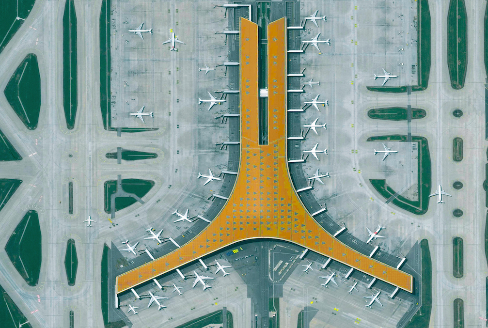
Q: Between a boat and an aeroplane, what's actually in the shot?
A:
aeroplane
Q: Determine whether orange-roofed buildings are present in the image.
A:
Yes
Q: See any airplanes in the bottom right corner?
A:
Yes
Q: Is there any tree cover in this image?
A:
No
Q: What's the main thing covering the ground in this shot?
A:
paved ground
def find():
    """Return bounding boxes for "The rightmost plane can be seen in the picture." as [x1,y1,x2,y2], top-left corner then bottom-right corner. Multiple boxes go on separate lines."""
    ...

[430,185,451,204]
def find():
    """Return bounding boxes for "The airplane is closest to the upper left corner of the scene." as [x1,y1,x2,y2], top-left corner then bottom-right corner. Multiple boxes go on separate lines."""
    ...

[128,22,153,40]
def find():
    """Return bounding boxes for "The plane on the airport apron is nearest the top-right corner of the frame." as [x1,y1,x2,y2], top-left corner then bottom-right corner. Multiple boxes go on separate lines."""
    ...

[374,67,398,85]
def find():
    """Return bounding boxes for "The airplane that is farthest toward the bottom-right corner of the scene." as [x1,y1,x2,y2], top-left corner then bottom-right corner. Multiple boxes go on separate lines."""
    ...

[362,292,383,309]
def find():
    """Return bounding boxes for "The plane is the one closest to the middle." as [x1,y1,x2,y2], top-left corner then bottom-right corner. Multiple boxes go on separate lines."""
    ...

[197,169,221,186]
